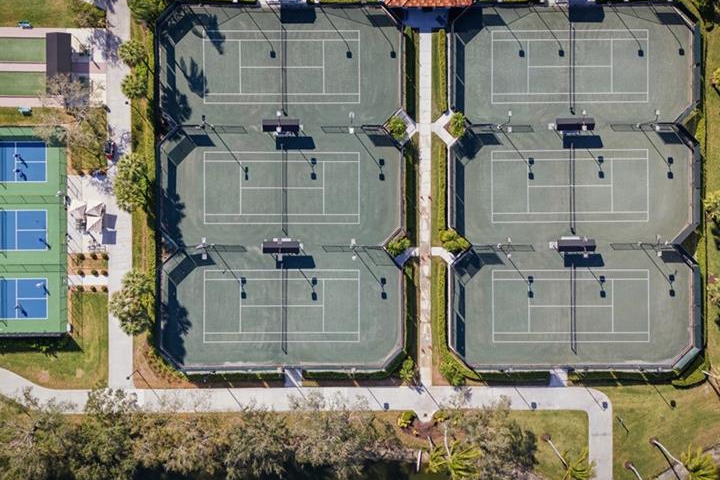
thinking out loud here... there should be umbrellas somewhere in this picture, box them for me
[87,217,103,232]
[88,200,104,216]
[70,201,88,219]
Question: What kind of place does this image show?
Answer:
sports ground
